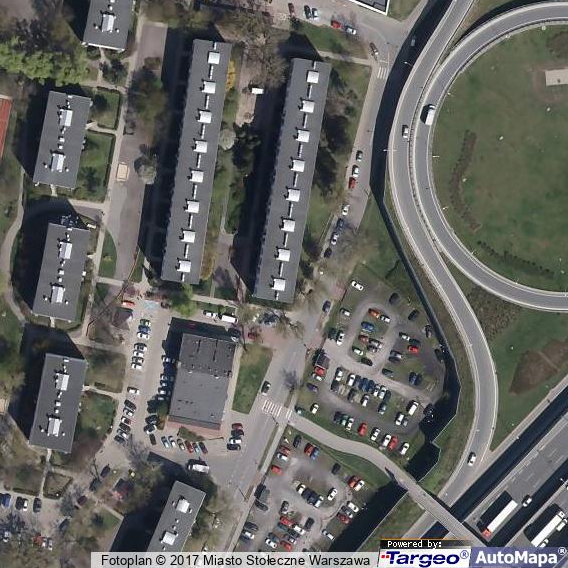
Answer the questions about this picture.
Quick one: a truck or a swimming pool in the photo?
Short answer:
truck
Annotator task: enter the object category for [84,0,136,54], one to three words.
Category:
building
